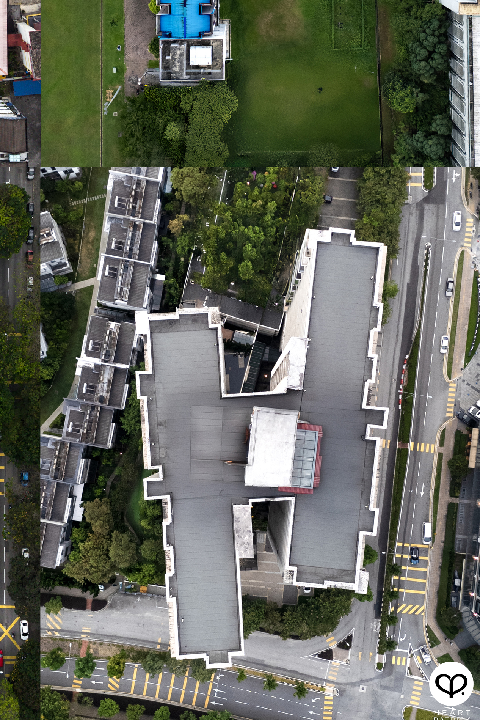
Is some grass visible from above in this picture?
Yes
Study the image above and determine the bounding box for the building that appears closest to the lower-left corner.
[40,519,63,568]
